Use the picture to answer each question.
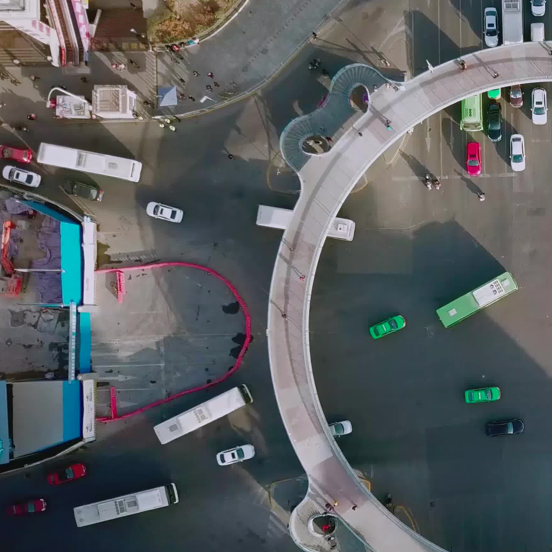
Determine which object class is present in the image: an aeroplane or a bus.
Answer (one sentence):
It is a bus that can be seen here.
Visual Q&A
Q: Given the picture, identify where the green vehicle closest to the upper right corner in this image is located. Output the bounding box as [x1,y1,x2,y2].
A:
[487,87,502,102]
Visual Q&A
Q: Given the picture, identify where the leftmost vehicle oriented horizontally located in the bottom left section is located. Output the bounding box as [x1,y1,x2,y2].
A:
[9,496,47,514]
